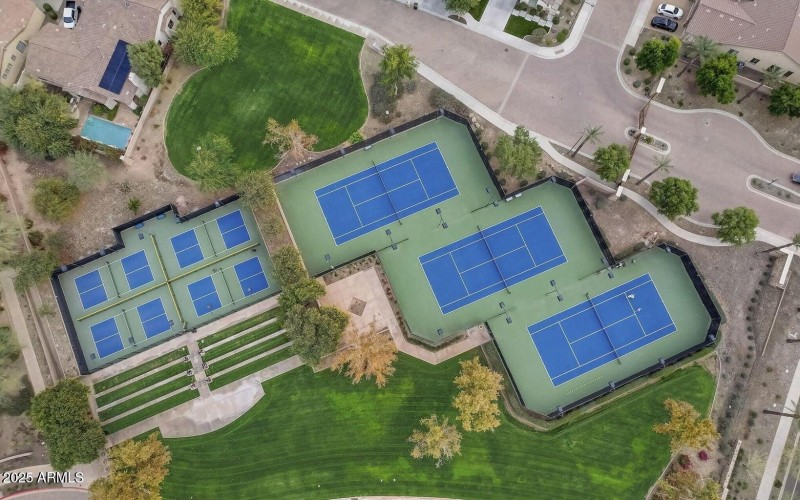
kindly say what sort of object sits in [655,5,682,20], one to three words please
car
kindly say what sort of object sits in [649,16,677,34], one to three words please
car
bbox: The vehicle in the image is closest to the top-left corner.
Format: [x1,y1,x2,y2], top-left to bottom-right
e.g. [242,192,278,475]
[62,1,80,29]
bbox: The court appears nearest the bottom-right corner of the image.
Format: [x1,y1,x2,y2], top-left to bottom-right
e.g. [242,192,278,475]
[486,247,710,415]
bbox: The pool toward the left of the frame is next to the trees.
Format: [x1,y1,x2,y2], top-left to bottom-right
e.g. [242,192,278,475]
[80,115,132,149]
